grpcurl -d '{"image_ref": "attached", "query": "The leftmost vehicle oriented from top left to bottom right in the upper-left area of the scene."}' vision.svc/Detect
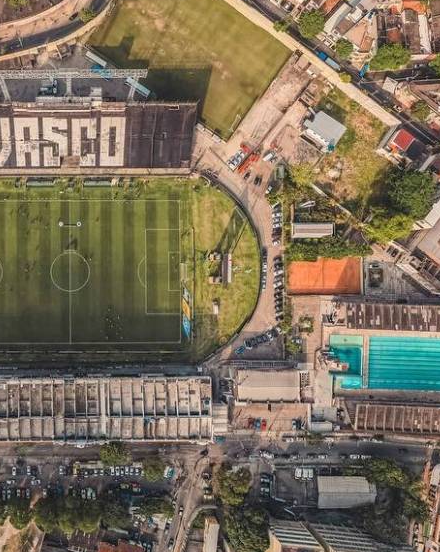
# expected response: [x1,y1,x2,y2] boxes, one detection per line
[85,47,108,67]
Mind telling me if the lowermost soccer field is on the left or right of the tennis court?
to the left of it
